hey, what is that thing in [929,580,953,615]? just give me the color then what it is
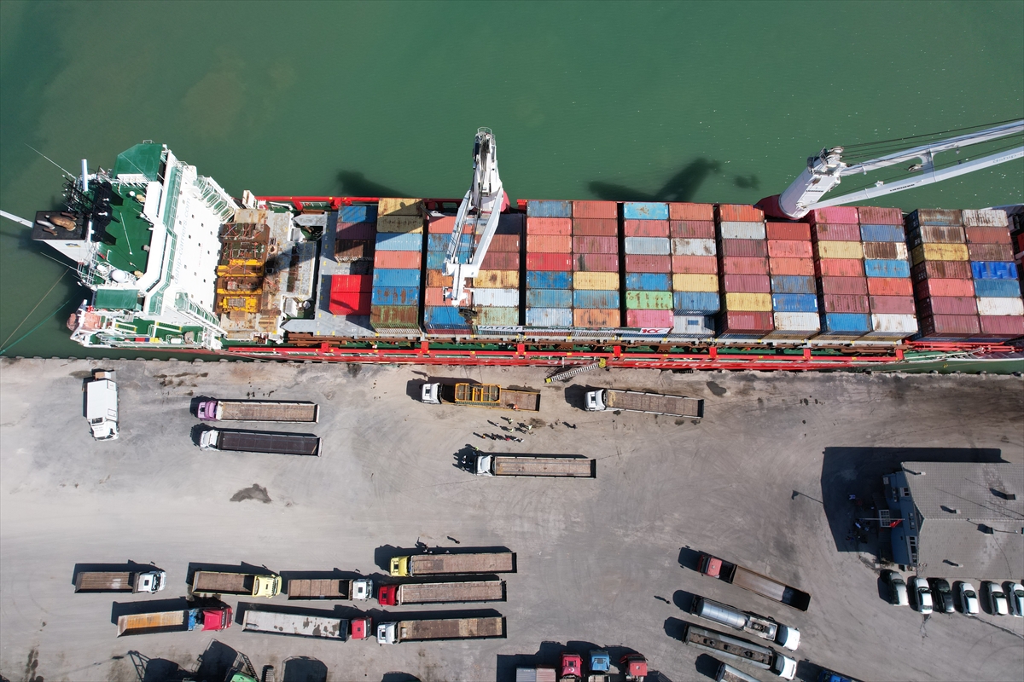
black car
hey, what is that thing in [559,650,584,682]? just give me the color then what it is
red truck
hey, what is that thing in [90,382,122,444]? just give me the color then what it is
white truck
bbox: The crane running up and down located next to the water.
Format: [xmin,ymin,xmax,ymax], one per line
[444,136,519,346]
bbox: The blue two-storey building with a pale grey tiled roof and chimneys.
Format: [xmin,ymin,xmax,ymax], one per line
[868,462,1024,582]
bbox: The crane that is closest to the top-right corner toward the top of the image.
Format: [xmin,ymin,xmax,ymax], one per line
[759,105,1024,222]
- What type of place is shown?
port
